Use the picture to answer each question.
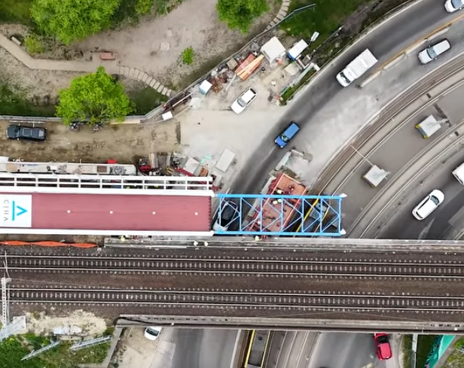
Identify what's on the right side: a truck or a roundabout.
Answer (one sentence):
What appears on the right side is a truck.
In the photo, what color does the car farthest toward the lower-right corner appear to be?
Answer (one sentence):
In this view, the car farthest toward the lower-right corner is red.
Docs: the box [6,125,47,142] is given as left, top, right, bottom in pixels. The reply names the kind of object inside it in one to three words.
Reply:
vehicle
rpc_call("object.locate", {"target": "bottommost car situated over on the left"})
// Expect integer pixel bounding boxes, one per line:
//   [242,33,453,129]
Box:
[142,328,159,341]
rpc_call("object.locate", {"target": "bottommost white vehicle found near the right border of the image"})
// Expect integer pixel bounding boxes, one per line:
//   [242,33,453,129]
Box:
[410,191,443,220]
